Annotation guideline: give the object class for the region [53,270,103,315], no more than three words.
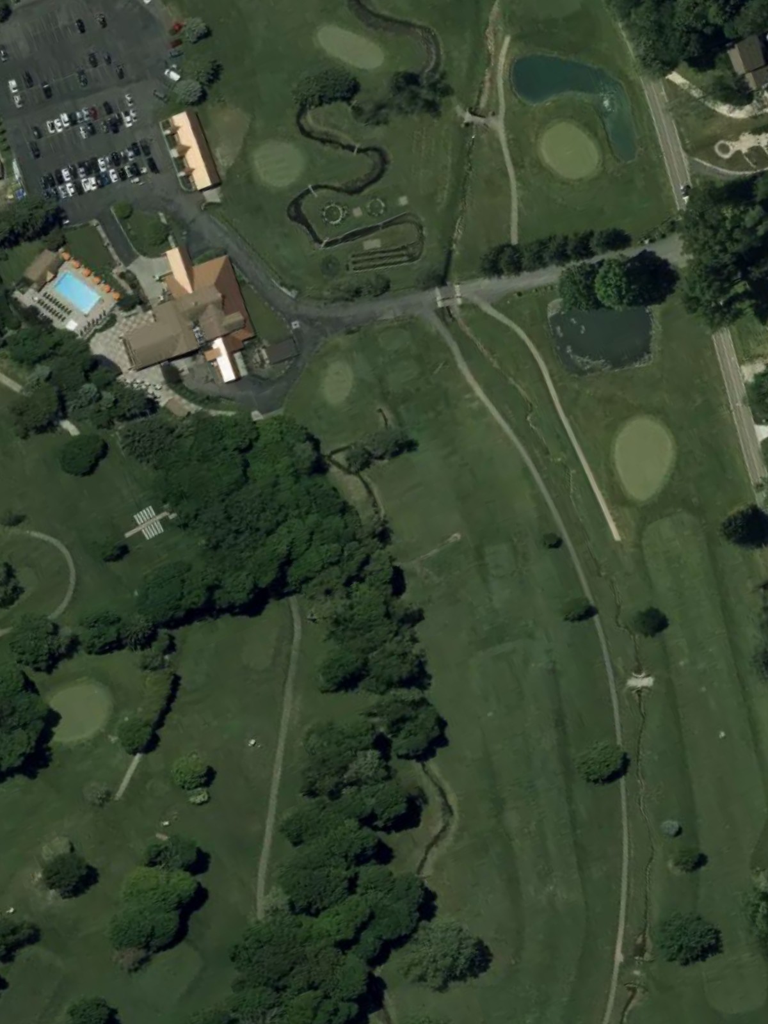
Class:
swimming pool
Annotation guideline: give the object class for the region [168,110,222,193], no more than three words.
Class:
building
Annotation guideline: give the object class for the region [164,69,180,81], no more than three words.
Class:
vehicle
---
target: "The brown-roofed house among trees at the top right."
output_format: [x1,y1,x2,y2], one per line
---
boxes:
[729,40,768,96]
